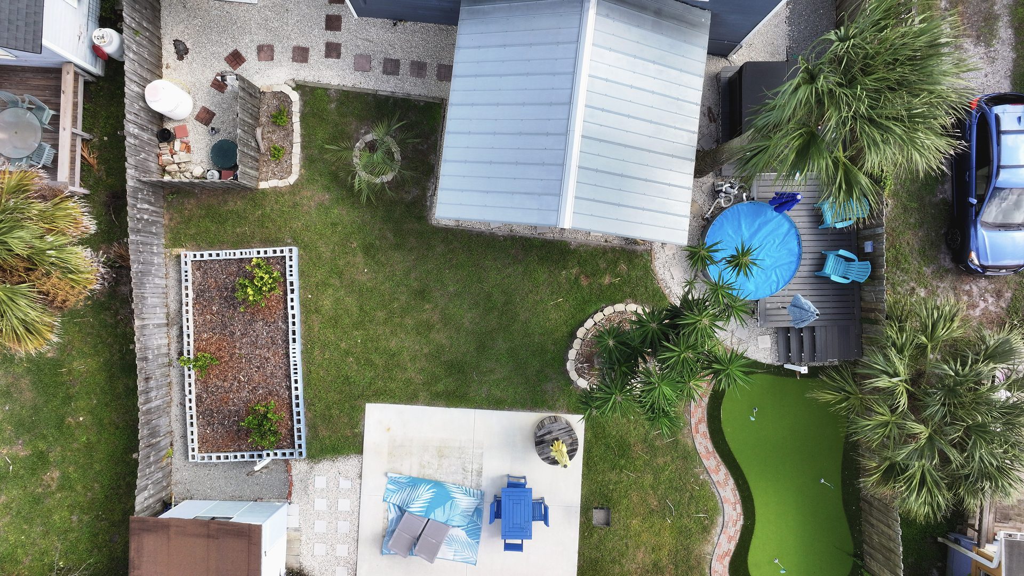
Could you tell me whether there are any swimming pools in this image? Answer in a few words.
Yes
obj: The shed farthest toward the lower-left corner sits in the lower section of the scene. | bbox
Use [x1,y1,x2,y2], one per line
[128,500,289,576]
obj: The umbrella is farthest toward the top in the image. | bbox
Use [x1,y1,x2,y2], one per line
[771,192,808,211]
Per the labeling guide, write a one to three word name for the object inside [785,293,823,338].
umbrella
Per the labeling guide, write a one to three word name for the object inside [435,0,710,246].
building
